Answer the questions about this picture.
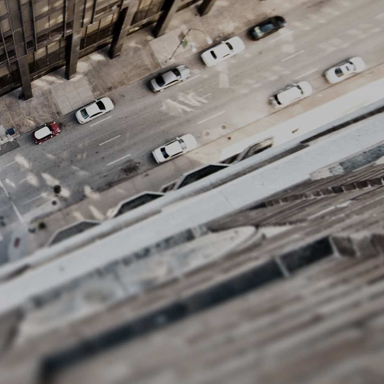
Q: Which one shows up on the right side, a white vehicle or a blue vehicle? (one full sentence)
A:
The feature located on the right side is a white vehicle.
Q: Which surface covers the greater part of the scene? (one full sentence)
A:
The scene is dominated by buildings.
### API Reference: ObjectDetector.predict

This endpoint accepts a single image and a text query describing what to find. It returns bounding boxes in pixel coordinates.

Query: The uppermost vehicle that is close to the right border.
[323,56,368,84]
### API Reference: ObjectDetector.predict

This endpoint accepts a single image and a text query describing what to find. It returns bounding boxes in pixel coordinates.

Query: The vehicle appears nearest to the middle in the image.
[152,132,198,163]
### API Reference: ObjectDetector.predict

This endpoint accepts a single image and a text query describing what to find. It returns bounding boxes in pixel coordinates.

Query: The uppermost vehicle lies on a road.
[246,16,289,43]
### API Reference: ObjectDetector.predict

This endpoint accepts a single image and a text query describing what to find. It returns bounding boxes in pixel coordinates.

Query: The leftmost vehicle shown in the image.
[31,122,63,144]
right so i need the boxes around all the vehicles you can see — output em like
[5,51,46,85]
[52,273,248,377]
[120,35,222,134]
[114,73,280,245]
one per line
[246,16,289,43]
[75,99,115,125]
[152,132,198,163]
[148,64,191,93]
[323,56,368,84]
[31,122,63,144]
[199,36,247,67]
